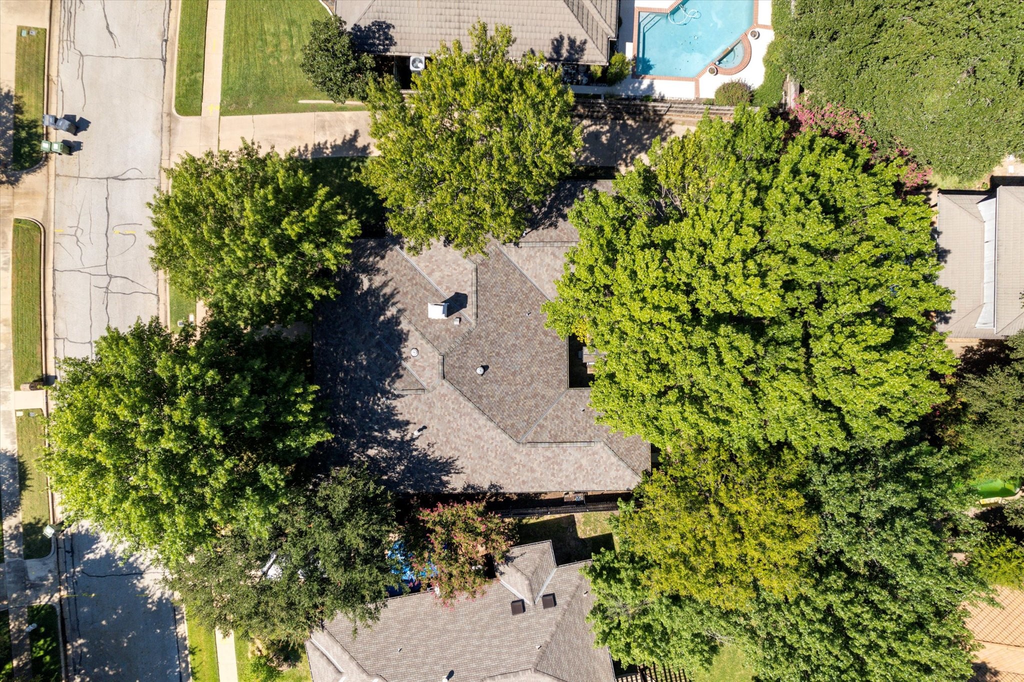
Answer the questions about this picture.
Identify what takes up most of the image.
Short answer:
trees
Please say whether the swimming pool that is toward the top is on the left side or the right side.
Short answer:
right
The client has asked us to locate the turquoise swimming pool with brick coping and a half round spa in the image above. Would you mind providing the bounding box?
[632,0,773,98]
